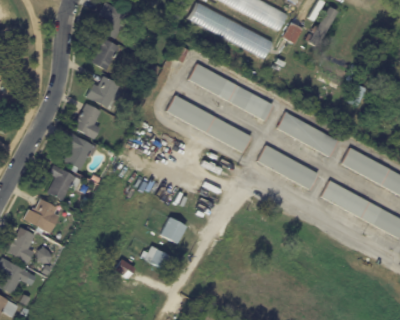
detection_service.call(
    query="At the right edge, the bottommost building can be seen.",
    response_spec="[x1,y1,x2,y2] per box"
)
[322,180,400,240]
